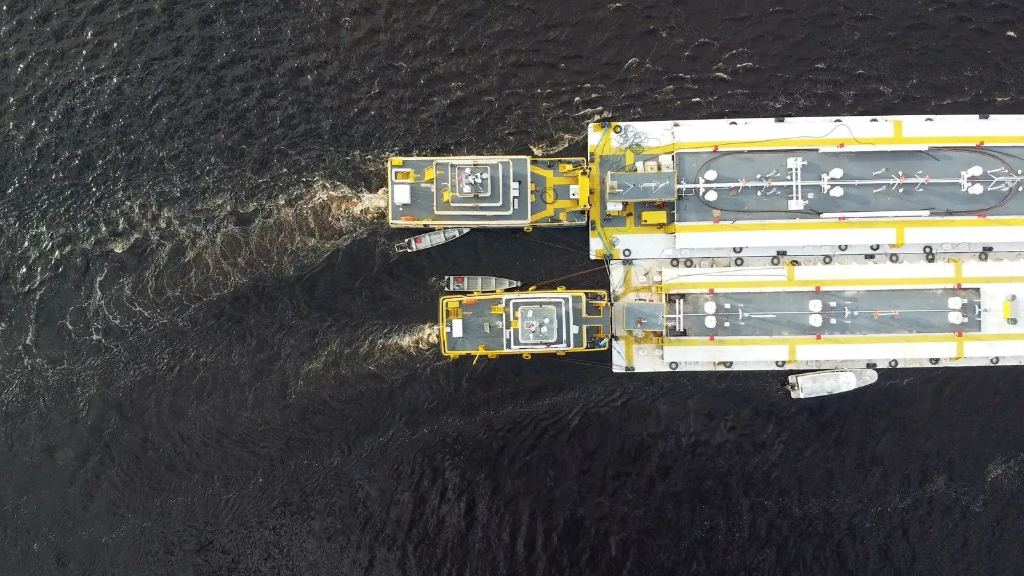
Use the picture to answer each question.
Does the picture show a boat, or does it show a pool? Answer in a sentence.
I can see a boat in this picture.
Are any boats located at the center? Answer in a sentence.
Yes, a boat can be seen at the center.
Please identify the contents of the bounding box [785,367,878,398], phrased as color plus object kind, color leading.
white boat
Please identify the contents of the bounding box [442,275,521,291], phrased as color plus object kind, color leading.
gray boat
